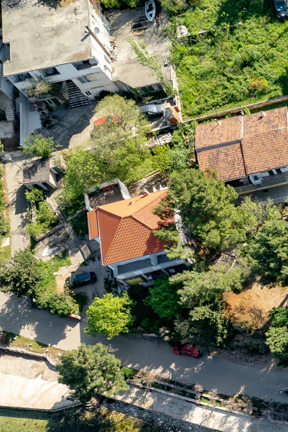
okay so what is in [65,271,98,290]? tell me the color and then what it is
black car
